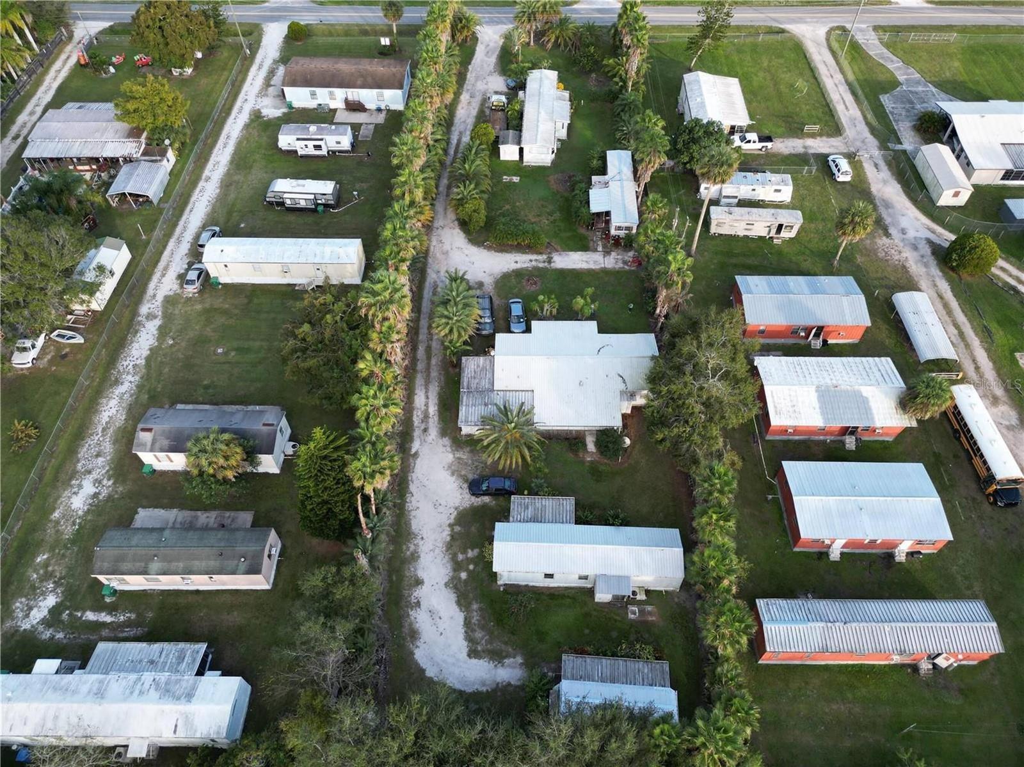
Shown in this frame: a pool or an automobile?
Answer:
automobile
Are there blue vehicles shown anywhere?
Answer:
Yes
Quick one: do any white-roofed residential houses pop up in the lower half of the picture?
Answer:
Yes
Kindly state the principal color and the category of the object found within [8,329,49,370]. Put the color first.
white truck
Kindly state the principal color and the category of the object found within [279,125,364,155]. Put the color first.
white trailer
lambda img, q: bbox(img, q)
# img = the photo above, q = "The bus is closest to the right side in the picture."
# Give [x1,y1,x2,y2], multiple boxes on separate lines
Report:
[949,387,1024,501]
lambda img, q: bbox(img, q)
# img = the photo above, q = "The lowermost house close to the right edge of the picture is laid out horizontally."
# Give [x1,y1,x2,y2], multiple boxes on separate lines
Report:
[749,599,1003,667]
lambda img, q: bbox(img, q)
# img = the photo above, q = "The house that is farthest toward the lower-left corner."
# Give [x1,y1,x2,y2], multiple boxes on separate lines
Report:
[0,642,247,760]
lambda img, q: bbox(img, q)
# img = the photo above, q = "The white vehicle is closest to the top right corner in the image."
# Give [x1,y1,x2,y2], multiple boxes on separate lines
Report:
[830,155,854,180]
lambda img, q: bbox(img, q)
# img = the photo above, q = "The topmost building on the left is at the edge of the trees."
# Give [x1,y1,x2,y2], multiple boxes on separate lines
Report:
[282,57,410,109]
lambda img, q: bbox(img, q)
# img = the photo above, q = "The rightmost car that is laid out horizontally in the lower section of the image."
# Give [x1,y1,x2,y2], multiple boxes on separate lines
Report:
[468,474,518,497]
